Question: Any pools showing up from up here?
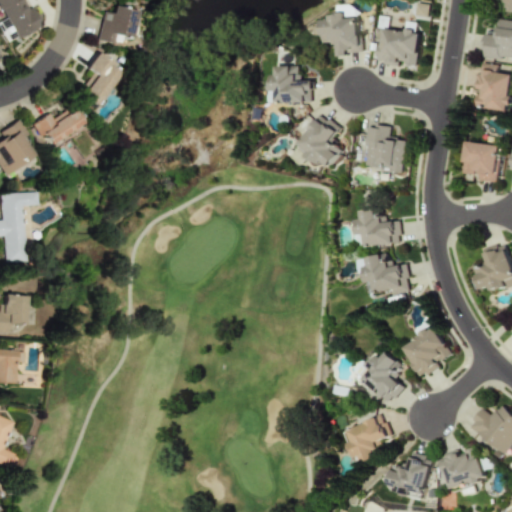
Yes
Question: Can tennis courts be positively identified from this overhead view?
No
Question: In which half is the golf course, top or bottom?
bottom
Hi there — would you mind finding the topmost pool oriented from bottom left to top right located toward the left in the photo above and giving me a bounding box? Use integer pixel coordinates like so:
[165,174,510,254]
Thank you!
[99,94,122,118]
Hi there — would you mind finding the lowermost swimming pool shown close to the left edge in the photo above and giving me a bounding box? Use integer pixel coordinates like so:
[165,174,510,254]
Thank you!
[25,347,39,372]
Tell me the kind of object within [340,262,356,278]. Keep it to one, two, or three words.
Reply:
swimming pool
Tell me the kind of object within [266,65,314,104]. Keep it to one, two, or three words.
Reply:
house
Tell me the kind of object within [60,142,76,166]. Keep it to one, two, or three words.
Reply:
swimming pool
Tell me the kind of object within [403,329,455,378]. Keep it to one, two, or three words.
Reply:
house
